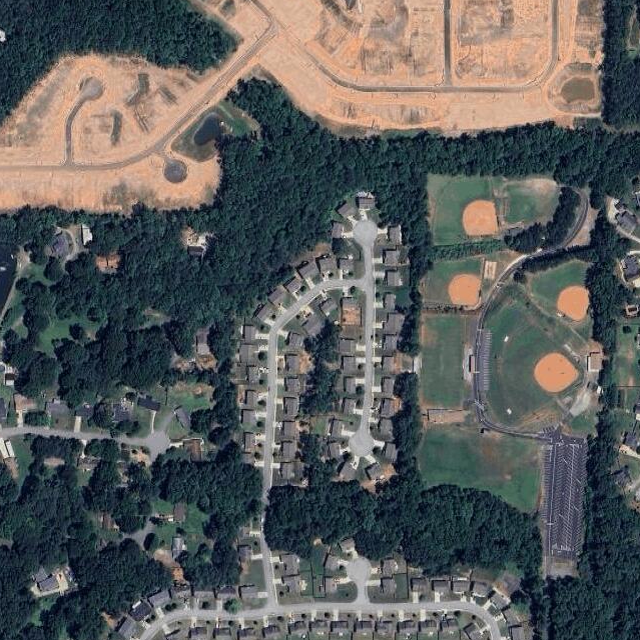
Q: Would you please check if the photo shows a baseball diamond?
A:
Yes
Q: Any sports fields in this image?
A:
Yes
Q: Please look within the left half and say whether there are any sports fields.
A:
No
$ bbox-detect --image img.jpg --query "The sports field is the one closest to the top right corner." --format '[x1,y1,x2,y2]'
[501,176,559,229]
